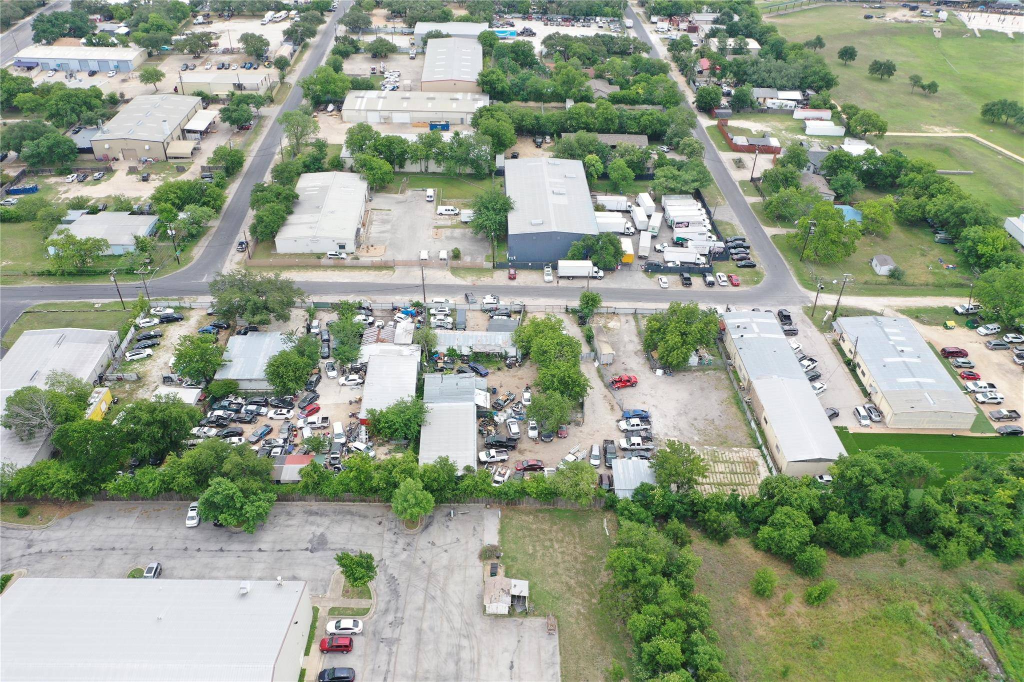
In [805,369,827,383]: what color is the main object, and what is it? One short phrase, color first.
gray car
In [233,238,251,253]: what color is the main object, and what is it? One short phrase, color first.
gray vehicle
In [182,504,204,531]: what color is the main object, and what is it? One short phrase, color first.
white car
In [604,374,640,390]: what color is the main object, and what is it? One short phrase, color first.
red vehicle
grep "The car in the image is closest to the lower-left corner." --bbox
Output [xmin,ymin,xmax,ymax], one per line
[140,555,169,579]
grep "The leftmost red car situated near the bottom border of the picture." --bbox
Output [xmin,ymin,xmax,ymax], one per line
[316,635,356,655]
